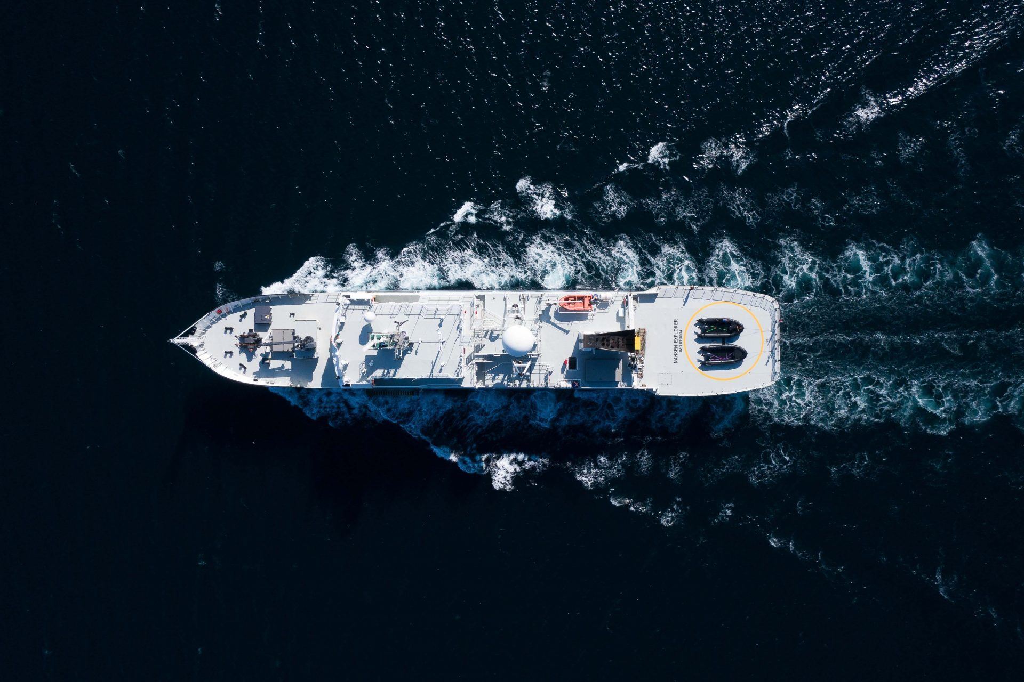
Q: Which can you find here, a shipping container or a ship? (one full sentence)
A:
Looking from above, you can make out a ship.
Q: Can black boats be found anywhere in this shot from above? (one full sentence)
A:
Yes, a black boat is visible in the scene.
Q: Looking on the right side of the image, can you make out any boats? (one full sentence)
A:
Yes, there is a boat on the right side of the image.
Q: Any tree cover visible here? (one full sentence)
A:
No, the picture contains no tree cover.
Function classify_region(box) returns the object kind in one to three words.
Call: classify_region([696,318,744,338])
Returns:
boat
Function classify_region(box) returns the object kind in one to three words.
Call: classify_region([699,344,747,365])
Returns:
boat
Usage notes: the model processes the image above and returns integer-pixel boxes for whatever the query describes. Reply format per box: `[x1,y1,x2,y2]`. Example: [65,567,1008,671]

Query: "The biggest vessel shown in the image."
[170,286,790,399]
